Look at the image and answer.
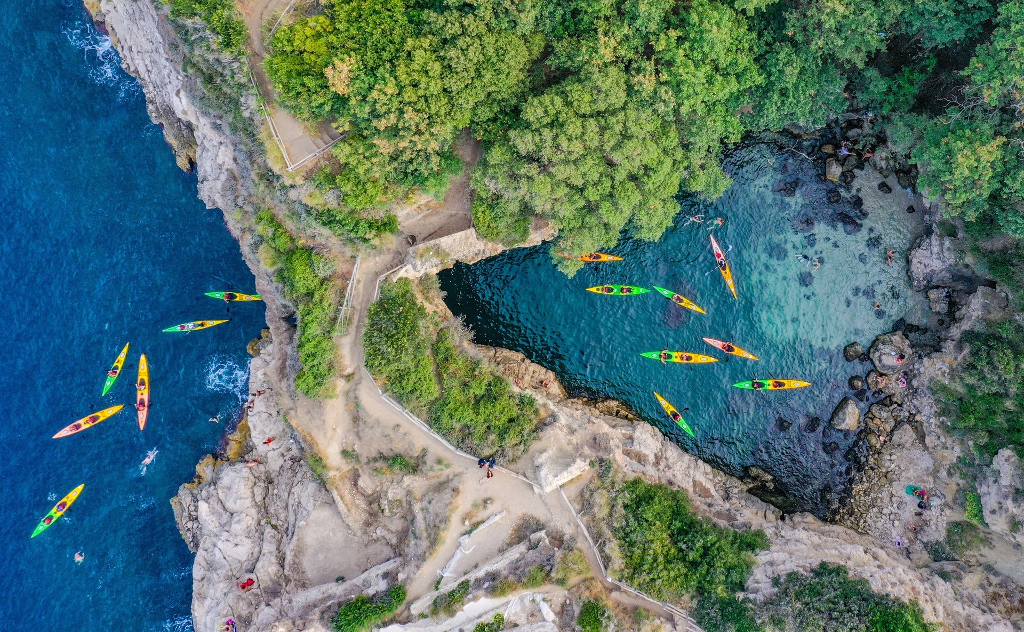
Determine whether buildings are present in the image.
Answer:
No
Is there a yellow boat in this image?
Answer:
Yes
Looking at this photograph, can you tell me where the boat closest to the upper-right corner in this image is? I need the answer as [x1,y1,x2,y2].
[711,236,738,299]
